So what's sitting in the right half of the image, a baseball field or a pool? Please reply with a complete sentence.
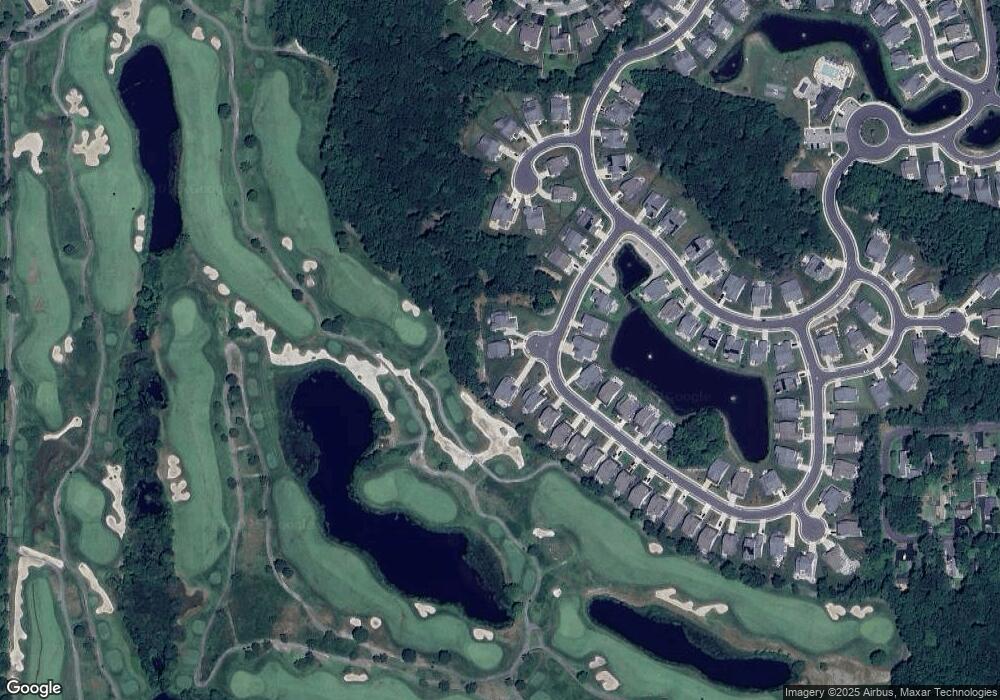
What appears in the right half of the image is a pool.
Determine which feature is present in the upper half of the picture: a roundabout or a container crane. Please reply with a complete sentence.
There is a roundabout in the upper half of the picture.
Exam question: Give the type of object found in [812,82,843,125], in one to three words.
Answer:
building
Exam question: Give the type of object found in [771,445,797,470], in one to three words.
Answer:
house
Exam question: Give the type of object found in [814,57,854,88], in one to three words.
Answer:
swimming pool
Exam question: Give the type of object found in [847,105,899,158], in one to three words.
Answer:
roundabout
